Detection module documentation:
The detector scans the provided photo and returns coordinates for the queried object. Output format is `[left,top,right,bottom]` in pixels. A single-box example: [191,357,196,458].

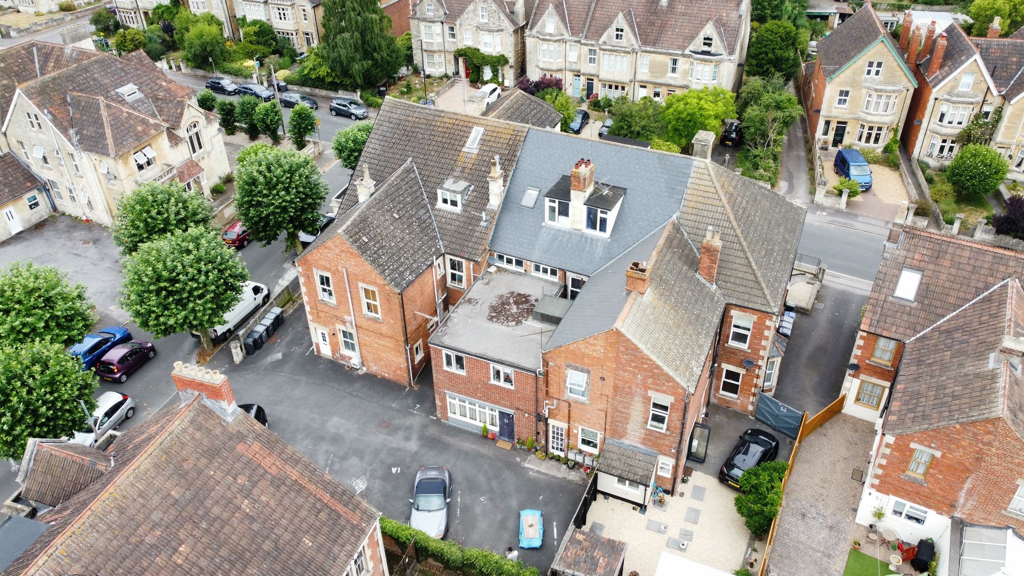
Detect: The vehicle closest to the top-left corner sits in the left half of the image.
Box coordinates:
[204,75,239,95]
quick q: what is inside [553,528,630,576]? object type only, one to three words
shed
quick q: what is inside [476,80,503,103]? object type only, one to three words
car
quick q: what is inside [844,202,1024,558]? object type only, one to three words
house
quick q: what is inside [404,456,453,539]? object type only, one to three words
car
